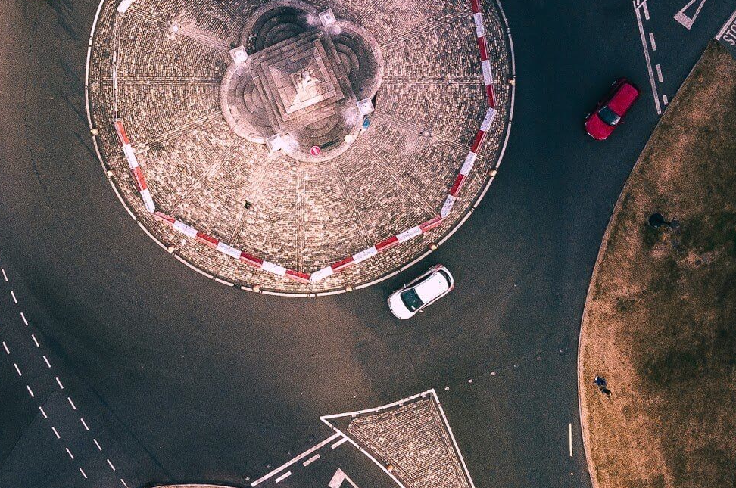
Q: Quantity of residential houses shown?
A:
zero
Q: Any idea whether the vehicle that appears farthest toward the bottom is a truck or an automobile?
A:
automobile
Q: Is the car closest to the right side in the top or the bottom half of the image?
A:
top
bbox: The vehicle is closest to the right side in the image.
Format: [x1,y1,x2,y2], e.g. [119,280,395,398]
[587,78,640,141]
